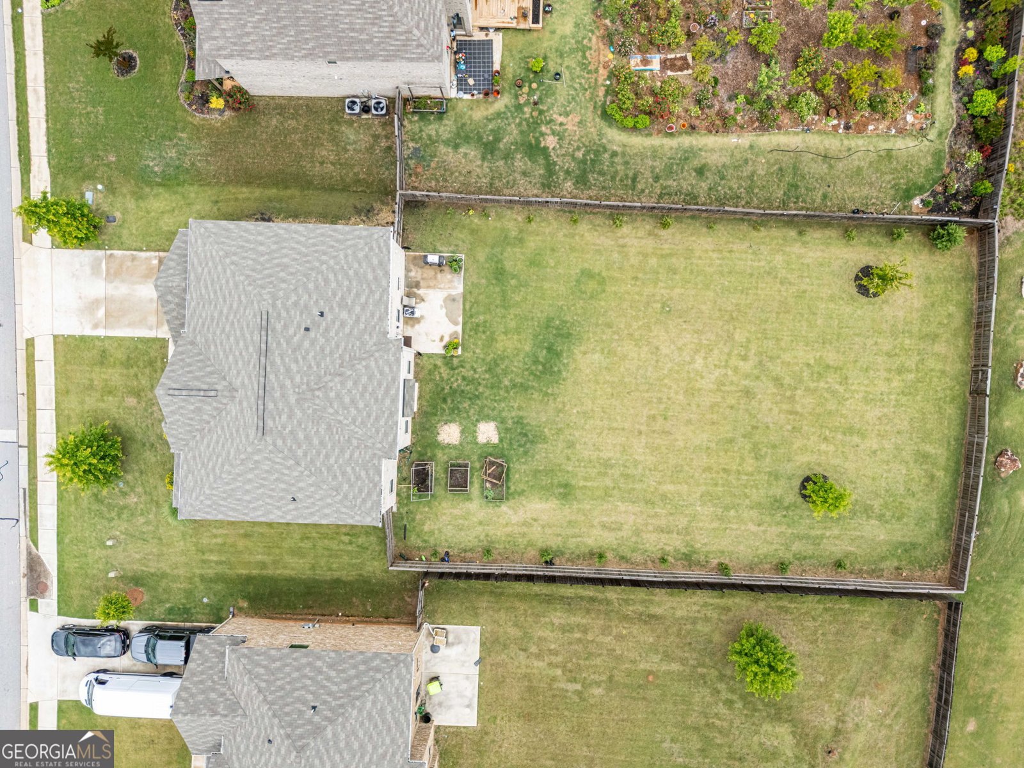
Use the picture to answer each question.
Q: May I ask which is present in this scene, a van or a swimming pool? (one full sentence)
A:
There is a van in the scene.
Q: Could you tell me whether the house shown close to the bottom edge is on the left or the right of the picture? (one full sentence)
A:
You can find the house shown close to the bottom edge on the left side of the picture.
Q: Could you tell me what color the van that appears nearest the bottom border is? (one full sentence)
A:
The van that appears nearest the bottom border looks white in the image.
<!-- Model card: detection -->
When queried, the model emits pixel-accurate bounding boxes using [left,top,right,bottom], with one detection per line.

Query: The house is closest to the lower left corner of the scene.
[171,605,439,768]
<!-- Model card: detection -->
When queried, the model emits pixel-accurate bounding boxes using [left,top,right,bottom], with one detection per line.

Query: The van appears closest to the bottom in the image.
[79,668,185,719]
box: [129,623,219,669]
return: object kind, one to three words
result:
truck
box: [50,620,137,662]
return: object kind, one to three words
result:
car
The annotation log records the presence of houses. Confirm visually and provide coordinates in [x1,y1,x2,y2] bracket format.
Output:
[191,0,472,98]
[171,605,439,768]
[155,219,425,527]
